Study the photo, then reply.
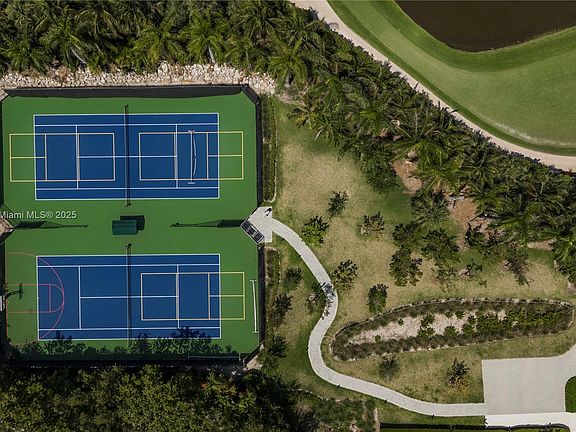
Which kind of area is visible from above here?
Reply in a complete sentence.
The area seen from above is a sports ground.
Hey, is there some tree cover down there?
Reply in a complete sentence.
Yes, there is tree cover in the image.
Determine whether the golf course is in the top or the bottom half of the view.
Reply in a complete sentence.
The golf course sits in the top half of the picture.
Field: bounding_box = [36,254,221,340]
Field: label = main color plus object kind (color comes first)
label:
blue tennis court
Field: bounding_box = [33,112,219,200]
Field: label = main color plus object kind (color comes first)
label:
blue tennis court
